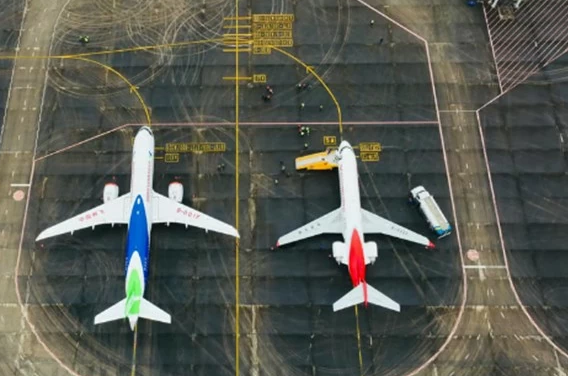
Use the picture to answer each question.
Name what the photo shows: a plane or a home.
plane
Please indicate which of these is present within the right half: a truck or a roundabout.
truck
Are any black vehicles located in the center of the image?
No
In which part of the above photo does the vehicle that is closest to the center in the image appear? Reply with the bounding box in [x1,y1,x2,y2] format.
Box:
[295,152,337,172]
